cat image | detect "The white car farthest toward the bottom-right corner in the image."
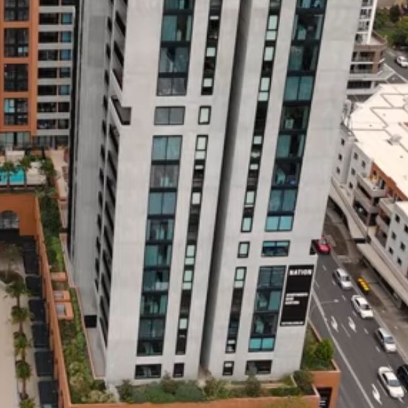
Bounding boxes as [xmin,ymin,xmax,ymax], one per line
[375,370,405,399]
